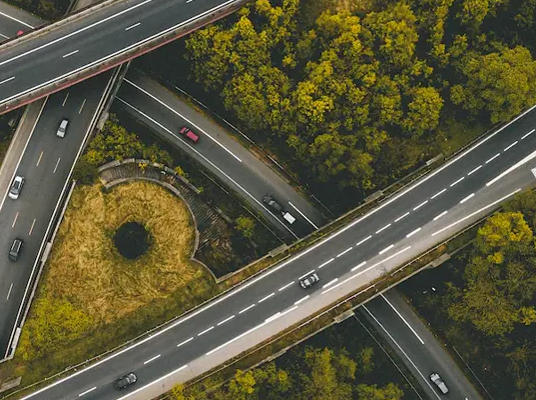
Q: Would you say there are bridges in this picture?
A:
Yes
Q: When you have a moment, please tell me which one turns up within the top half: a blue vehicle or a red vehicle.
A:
red vehicle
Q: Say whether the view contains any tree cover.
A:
Yes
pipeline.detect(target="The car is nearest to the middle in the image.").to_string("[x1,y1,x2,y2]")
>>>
[261,193,283,213]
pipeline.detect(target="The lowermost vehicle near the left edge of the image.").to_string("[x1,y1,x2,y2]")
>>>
[7,237,23,262]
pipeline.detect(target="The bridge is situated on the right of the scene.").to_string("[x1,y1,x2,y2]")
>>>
[193,152,467,393]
